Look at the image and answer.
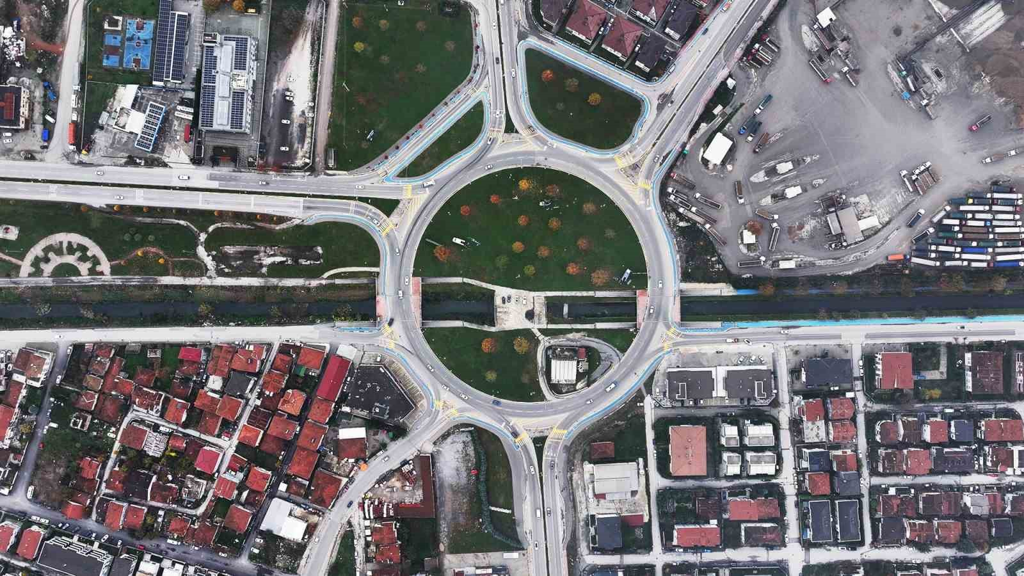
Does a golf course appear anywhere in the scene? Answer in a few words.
No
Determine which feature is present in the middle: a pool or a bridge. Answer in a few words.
bridge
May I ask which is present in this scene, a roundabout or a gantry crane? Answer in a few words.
roundabout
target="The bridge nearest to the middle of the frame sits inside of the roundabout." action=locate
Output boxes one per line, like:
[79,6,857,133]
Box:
[495,287,546,331]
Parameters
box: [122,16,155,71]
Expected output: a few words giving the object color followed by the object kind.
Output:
blue basketball court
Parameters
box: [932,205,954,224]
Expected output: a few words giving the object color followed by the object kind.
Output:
white vehicle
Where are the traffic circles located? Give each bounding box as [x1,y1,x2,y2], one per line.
[394,148,667,421]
